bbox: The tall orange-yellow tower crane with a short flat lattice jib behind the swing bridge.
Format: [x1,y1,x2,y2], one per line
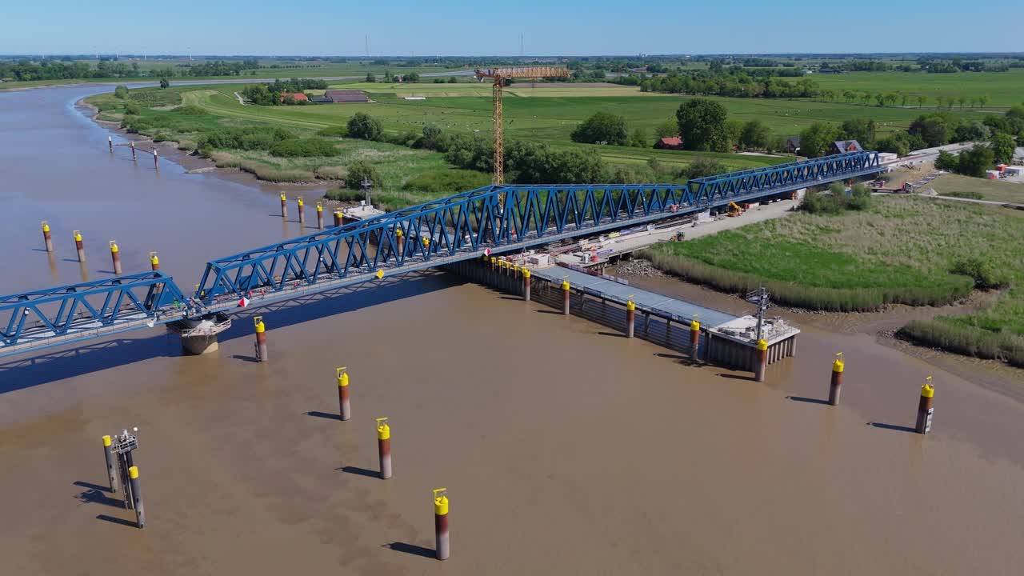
[477,65,570,235]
